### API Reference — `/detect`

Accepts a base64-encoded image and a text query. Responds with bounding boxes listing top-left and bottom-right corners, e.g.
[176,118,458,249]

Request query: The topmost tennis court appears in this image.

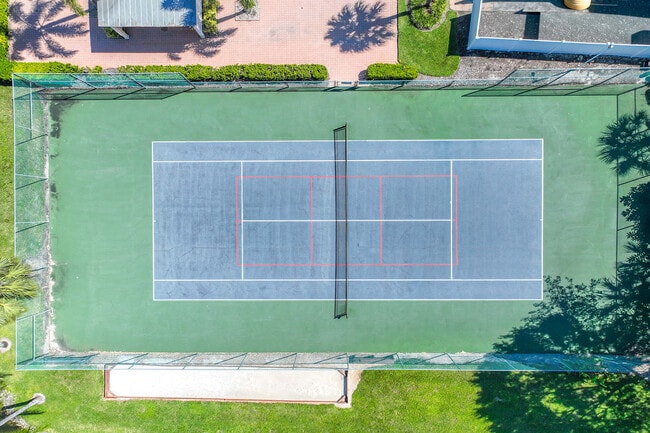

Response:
[46,85,650,352]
